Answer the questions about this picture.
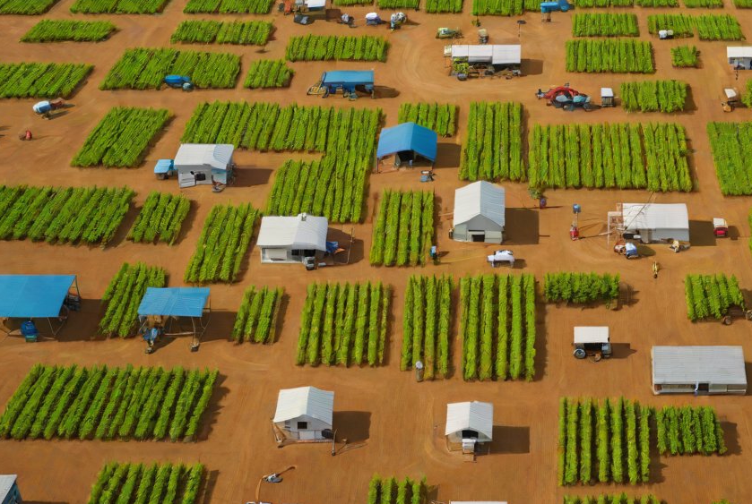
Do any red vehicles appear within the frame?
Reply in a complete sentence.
Yes, the photo shows a red vehicle.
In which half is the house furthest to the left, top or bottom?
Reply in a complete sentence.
The top half of the photo is where the house furthest to the left is.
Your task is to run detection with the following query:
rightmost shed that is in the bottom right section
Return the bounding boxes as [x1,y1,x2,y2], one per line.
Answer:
[647,345,749,396]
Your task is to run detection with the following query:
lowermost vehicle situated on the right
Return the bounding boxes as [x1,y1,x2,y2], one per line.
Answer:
[461,430,480,461]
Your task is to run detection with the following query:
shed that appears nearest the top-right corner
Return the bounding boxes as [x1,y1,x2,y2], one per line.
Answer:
[724,45,752,69]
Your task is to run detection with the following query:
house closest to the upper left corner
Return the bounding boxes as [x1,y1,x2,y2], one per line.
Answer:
[173,143,236,186]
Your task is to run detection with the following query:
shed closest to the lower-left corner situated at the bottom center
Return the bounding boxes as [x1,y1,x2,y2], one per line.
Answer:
[268,385,343,445]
